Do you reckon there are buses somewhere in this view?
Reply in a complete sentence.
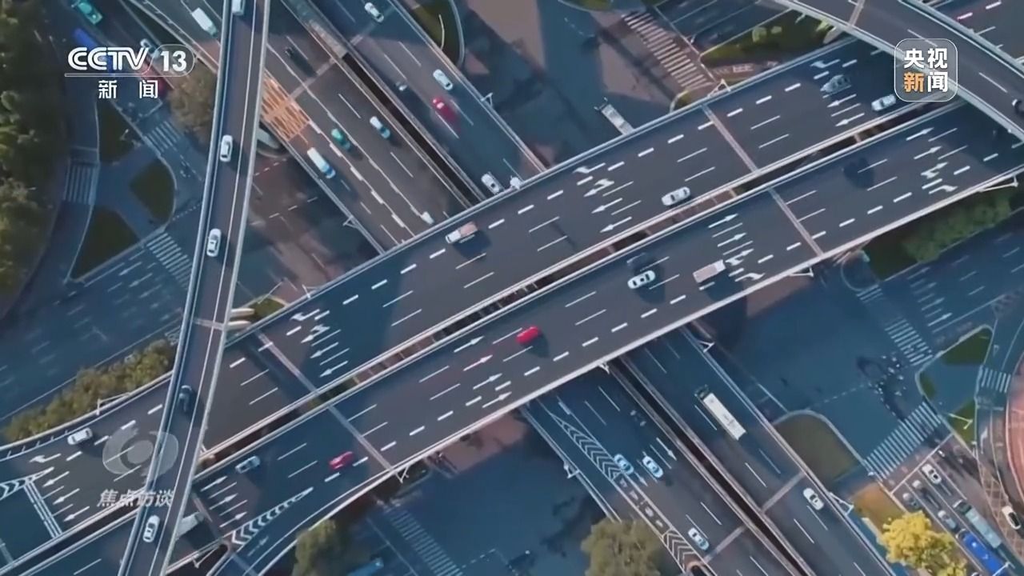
Yes, there's a bus here.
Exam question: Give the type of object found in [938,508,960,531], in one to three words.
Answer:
car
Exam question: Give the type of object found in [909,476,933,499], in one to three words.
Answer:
car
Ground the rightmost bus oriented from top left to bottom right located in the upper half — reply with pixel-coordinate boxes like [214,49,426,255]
[598,94,637,136]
